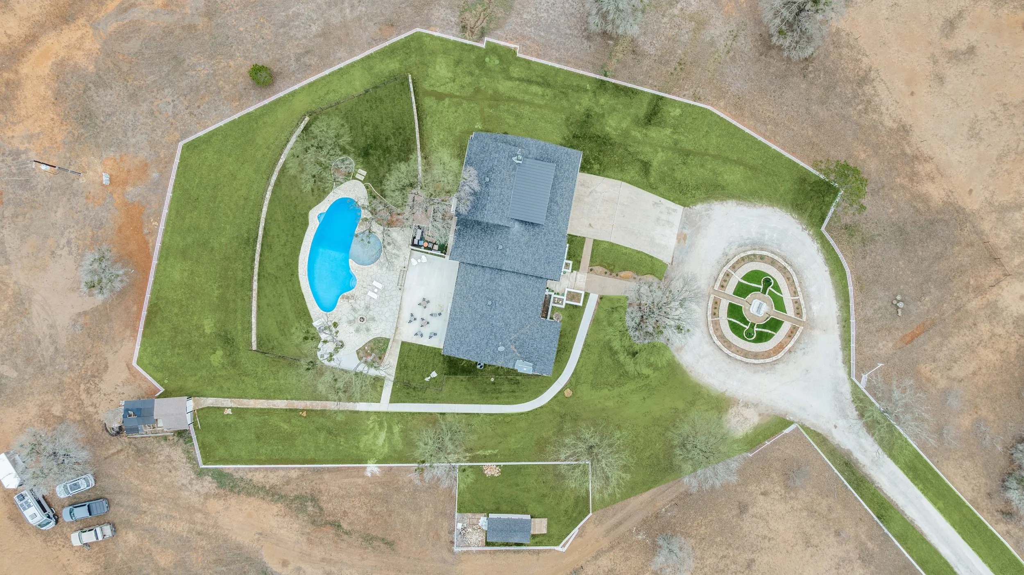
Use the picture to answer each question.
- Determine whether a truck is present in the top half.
No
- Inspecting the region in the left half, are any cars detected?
Yes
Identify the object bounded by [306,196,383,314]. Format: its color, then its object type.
blue swimming pool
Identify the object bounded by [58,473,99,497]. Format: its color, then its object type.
white car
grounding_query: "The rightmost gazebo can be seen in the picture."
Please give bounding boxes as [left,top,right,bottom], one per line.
[750,299,771,317]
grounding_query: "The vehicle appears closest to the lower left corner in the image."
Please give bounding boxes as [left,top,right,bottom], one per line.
[12,483,61,532]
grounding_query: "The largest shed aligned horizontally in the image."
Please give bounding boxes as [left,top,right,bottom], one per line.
[117,396,194,436]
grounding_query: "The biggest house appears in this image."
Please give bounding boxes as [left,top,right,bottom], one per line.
[441,131,583,376]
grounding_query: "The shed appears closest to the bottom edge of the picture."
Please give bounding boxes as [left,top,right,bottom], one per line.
[487,514,531,543]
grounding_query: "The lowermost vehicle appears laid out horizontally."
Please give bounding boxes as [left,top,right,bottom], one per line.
[71,521,121,550]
